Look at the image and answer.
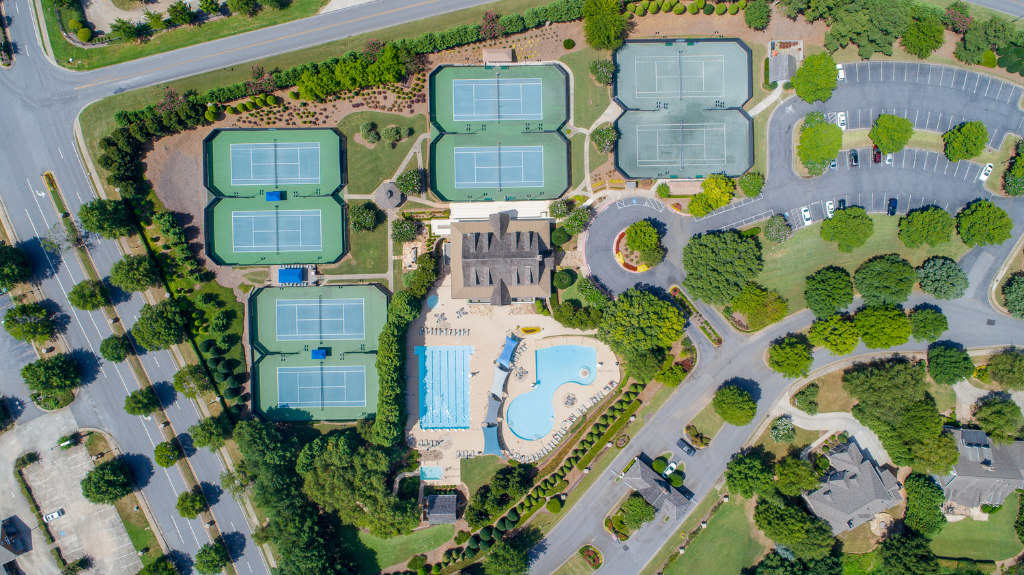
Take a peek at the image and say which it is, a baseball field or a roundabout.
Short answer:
roundabout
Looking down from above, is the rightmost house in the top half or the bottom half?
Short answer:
bottom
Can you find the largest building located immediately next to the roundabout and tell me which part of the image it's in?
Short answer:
center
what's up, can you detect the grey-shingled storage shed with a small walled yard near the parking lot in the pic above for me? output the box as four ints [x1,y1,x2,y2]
[767,40,803,85]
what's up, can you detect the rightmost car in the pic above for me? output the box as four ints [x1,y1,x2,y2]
[978,163,992,181]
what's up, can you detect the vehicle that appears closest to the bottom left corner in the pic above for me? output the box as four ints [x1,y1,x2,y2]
[44,508,66,522]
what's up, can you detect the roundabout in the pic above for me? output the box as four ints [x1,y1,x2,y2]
[584,196,692,299]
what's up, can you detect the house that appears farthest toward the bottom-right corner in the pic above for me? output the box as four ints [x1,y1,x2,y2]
[935,429,1024,508]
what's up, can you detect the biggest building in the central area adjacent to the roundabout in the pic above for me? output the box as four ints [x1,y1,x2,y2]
[444,212,555,306]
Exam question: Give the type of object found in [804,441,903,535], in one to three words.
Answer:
house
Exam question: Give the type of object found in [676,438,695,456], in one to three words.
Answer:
vehicle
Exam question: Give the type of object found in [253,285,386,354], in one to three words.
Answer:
tennis court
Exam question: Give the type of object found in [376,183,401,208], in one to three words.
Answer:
gazebo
